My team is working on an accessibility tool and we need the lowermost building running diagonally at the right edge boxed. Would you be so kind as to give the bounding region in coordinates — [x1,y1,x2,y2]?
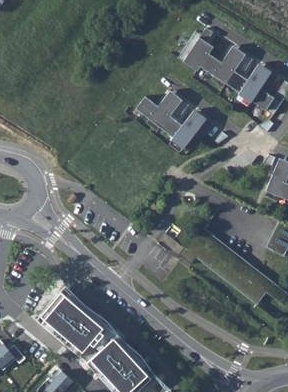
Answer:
[184,232,288,308]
